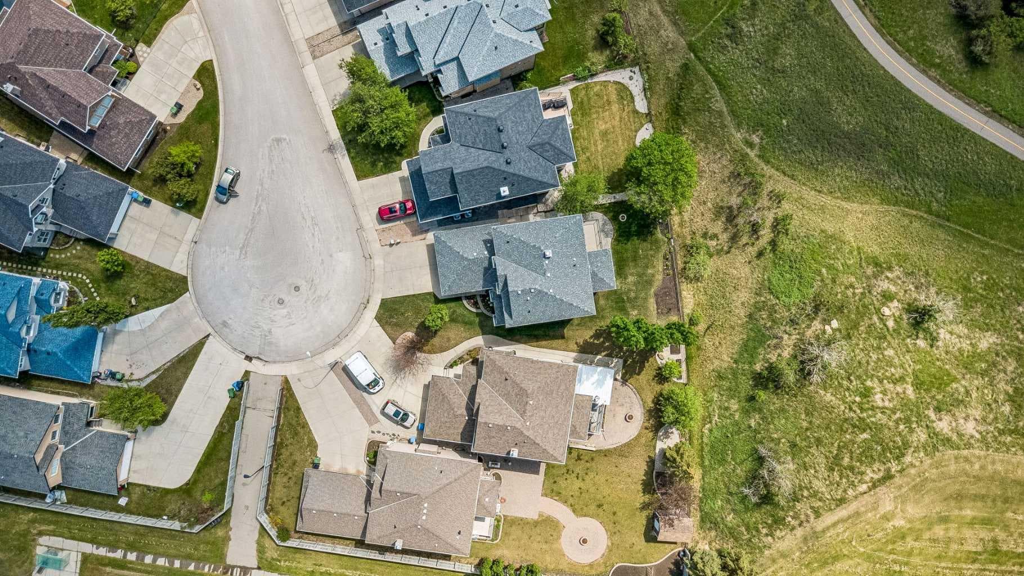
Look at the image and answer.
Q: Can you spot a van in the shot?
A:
Yes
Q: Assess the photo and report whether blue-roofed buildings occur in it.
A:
Yes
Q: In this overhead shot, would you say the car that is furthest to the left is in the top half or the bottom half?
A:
top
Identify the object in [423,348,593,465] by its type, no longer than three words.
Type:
house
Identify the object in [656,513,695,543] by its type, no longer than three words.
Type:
shed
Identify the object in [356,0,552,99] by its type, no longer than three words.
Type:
house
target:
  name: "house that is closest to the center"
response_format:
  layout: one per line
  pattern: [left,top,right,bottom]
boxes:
[433,214,617,328]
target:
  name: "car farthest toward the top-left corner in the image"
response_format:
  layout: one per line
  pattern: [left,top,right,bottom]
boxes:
[215,165,241,204]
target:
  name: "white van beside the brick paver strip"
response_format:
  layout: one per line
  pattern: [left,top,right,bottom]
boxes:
[343,349,385,393]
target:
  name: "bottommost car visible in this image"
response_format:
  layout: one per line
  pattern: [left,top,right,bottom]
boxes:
[379,398,418,427]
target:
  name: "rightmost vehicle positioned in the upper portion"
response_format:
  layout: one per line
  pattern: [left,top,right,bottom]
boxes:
[375,198,417,221]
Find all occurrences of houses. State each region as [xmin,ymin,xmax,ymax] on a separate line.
[0,0,165,172]
[0,269,110,384]
[356,0,552,99]
[0,386,138,496]
[296,440,501,558]
[0,131,139,255]
[405,86,577,223]
[423,348,593,465]
[433,214,617,328]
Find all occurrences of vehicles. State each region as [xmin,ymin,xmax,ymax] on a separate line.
[375,198,417,221]
[215,165,241,204]
[379,398,418,427]
[343,349,385,393]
